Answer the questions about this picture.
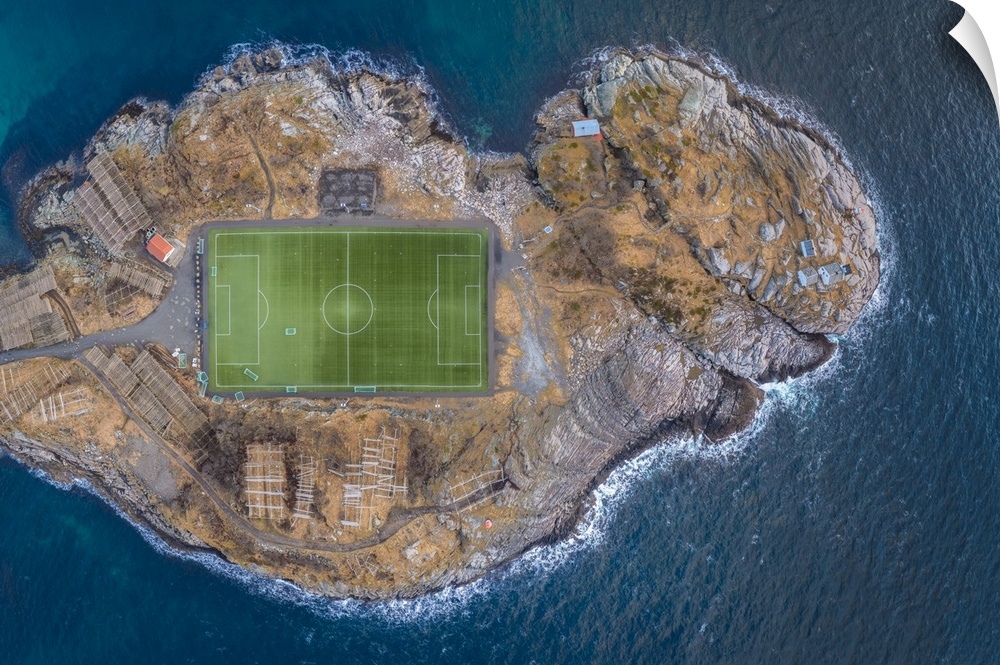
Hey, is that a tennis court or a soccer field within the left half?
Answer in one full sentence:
It is a soccer field that can be seen within the left half.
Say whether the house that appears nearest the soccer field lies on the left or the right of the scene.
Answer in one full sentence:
You can find the house that appears nearest the soccer field on the left side of the picture.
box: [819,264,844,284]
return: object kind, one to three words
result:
house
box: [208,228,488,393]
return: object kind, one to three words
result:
soccer field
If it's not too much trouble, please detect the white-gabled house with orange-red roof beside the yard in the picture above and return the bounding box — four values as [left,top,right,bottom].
[144,233,174,262]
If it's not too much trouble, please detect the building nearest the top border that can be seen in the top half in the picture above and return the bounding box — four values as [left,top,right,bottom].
[573,116,601,136]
